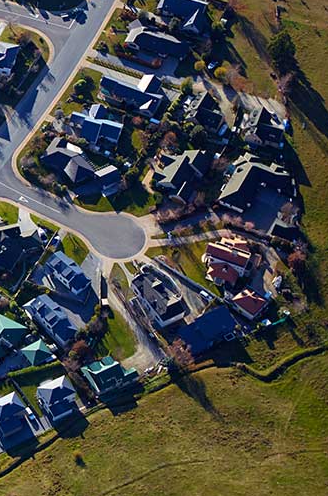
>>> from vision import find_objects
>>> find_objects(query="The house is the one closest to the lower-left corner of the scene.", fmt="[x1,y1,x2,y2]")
[0,390,36,445]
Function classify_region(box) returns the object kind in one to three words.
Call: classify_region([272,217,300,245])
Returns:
building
